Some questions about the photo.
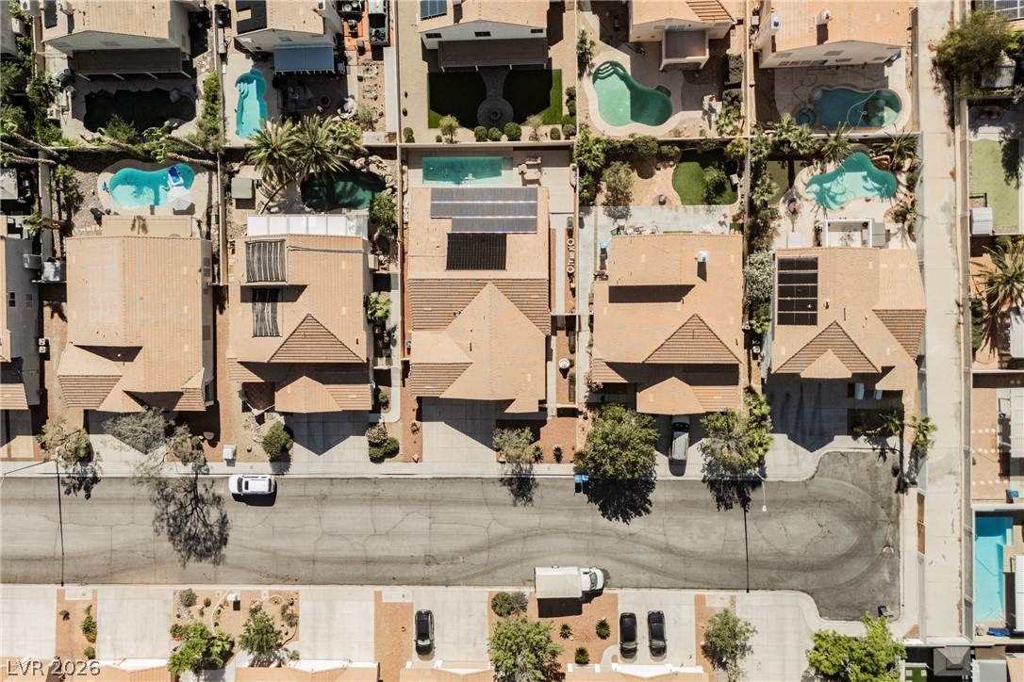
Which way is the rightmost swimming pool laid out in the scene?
from top to bottom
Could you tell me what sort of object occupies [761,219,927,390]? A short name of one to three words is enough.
house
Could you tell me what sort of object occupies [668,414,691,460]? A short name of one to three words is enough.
vehicle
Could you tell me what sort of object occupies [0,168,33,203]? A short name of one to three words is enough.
gazebo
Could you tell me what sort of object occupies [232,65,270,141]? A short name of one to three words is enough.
swimming pool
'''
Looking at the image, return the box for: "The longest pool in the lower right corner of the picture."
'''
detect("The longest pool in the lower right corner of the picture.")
[974,515,1017,624]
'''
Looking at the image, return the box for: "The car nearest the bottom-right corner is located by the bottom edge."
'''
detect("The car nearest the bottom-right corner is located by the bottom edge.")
[646,609,668,655]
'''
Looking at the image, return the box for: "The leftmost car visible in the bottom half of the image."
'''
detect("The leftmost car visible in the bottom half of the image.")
[230,474,277,496]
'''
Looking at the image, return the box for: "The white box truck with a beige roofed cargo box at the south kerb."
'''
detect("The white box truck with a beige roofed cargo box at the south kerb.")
[534,566,603,597]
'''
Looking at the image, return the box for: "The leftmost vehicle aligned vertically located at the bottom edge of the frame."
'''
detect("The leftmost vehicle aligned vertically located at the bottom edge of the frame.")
[414,608,435,653]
